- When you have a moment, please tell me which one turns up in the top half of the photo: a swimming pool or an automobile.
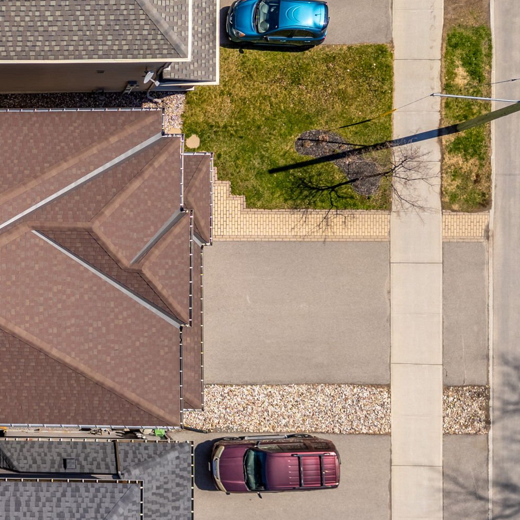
automobile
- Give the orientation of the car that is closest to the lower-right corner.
from left to right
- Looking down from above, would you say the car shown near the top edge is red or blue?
blue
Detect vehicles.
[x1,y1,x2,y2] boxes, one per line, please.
[211,434,340,499]
[225,0,332,52]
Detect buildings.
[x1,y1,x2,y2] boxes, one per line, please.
[0,107,213,426]
[0,0,220,108]
[0,433,194,520]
